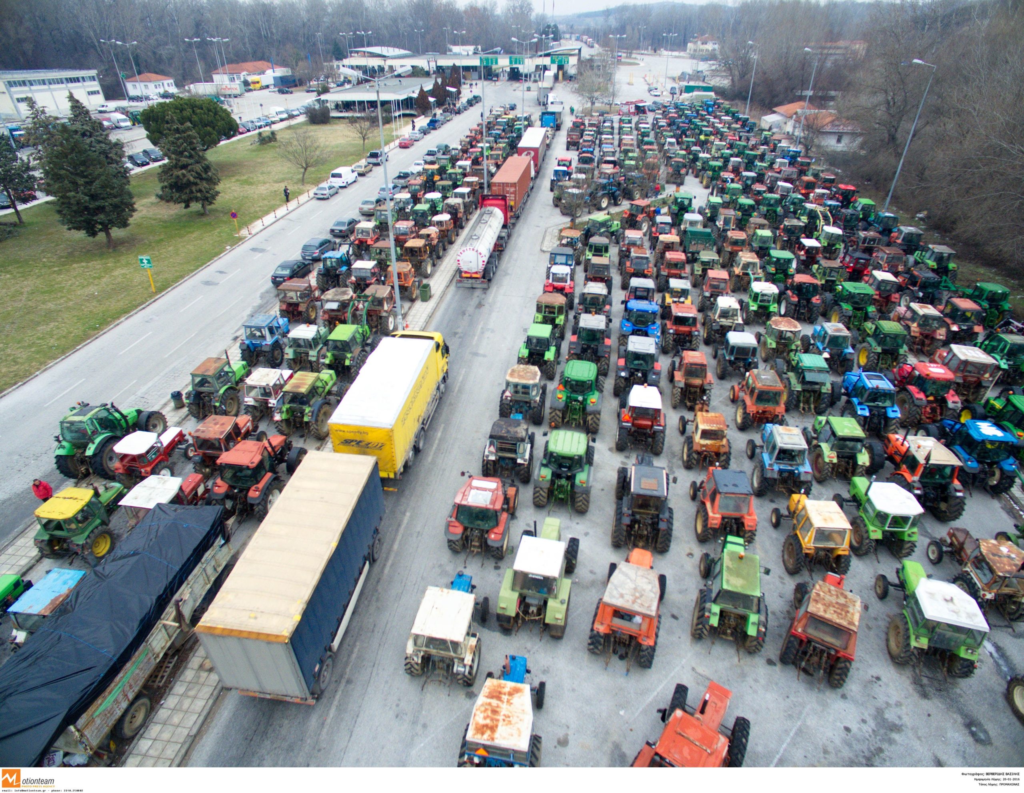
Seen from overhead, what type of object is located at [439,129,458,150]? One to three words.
vehicle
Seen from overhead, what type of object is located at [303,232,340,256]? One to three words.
car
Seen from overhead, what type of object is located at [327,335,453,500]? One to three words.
truck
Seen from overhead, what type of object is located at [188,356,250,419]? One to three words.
work vehicle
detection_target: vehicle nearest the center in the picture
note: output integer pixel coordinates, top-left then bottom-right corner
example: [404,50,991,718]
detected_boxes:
[499,371,544,428]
